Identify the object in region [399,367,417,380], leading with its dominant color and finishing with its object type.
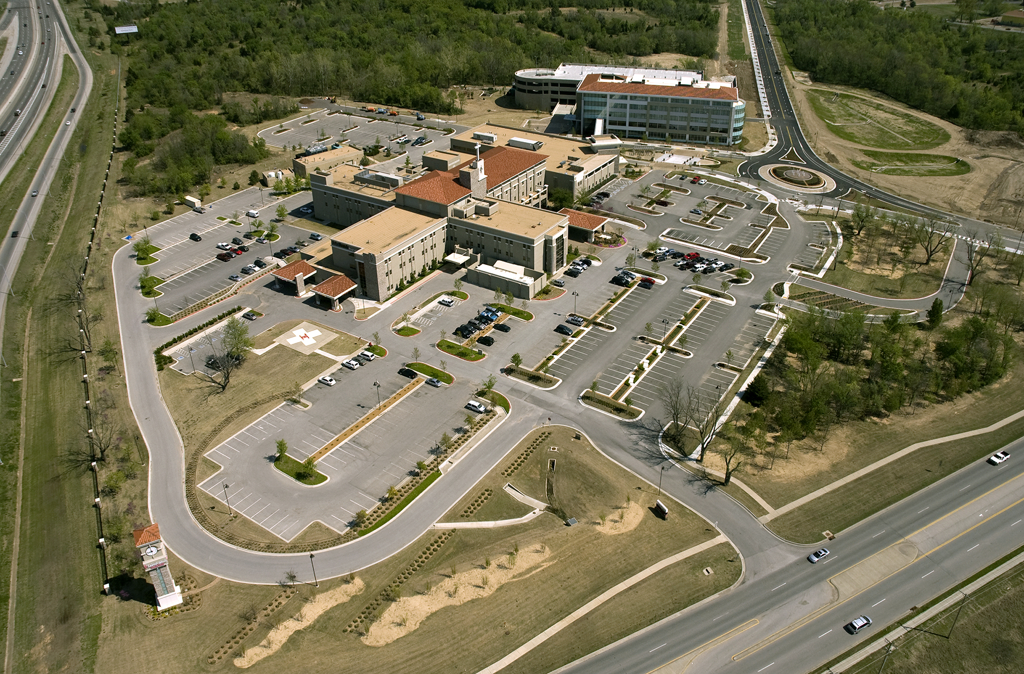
black vehicle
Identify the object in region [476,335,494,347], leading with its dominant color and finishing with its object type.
black vehicle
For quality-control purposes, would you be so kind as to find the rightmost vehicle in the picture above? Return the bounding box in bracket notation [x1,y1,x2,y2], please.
[988,450,1012,467]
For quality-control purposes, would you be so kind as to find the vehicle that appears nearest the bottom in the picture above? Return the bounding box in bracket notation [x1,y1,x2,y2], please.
[846,617,873,637]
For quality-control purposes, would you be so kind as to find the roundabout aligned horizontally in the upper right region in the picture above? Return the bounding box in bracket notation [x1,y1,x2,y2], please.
[759,165,836,192]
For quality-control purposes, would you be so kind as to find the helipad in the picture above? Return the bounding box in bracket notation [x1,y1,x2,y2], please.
[274,321,338,353]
